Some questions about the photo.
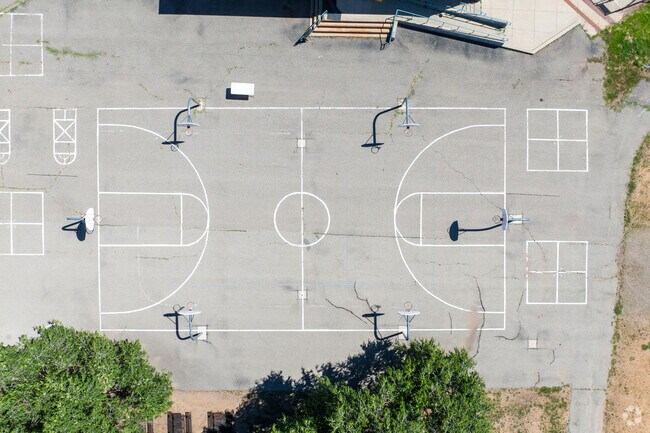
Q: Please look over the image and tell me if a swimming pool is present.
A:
No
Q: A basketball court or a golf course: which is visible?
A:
basketball court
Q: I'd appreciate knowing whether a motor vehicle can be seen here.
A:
No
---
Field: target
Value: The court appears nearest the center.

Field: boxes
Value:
[97,107,506,331]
